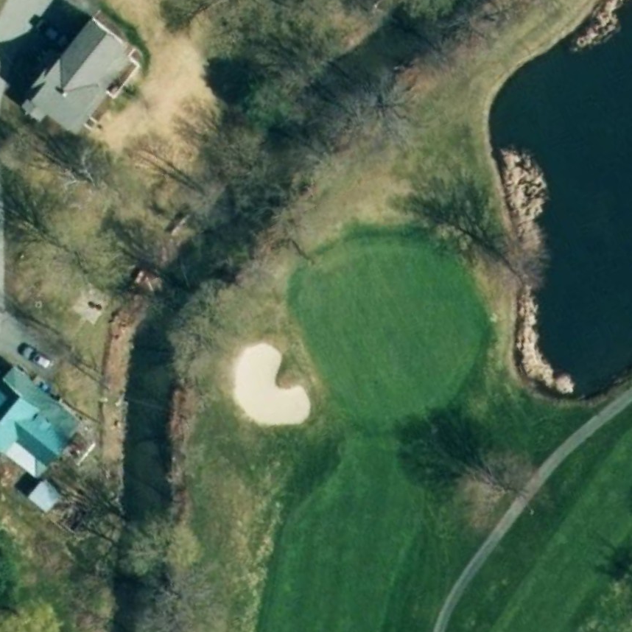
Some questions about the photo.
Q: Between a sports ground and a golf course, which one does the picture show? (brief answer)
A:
golf course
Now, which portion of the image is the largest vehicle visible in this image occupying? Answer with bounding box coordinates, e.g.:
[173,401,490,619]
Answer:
[15,340,53,370]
